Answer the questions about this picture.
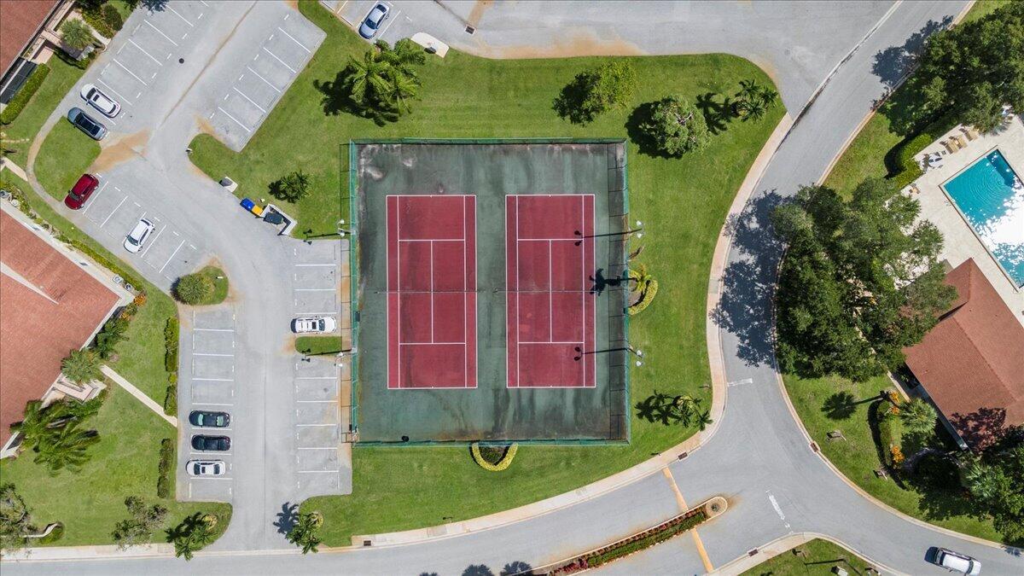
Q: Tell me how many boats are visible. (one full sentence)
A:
The picture shows no boats.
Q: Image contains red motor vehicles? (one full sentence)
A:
Yes, this view includes a red motor vehicle.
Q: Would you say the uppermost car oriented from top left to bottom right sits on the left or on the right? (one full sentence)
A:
The uppermost car oriented from top left to bottom right sits on the left side.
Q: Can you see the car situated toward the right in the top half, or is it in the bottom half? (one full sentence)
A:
You can find the car situated toward the right in the bottom half.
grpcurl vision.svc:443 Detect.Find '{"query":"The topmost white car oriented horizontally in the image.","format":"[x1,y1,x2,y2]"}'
[294,316,336,334]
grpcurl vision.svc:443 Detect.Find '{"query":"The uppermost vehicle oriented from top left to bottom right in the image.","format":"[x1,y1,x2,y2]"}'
[81,83,122,119]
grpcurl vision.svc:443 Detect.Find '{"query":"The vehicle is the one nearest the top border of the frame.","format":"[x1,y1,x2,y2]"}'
[358,0,391,41]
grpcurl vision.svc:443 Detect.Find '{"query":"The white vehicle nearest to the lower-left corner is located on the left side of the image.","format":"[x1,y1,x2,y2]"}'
[187,458,227,477]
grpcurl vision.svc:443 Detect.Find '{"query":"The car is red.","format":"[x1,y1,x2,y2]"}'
[66,173,101,211]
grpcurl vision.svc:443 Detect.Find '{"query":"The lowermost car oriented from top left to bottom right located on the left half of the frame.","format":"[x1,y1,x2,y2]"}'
[69,108,108,142]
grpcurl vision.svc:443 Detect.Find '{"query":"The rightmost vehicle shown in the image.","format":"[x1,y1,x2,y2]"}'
[934,546,978,574]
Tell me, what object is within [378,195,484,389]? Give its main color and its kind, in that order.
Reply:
red tennis court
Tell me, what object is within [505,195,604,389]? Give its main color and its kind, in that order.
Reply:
red tennis court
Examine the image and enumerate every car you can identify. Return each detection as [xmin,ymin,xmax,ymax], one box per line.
[69,108,108,142]
[66,173,101,211]
[294,316,336,334]
[187,458,227,477]
[934,546,978,574]
[190,410,231,428]
[192,433,232,452]
[358,0,391,41]
[81,83,122,119]
[125,218,156,255]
